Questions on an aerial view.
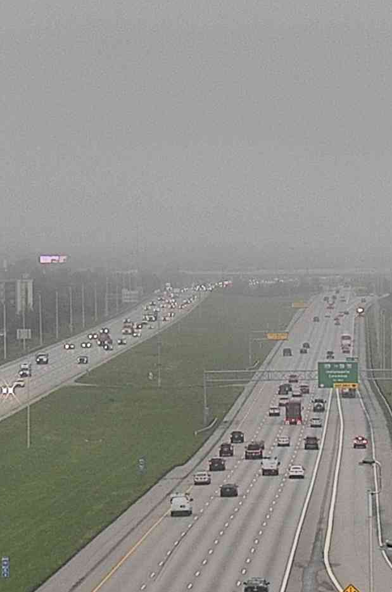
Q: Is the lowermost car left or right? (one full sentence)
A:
The lowermost car is on the right side of the image.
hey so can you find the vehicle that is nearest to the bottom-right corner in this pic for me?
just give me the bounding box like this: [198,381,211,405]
[242,572,272,592]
